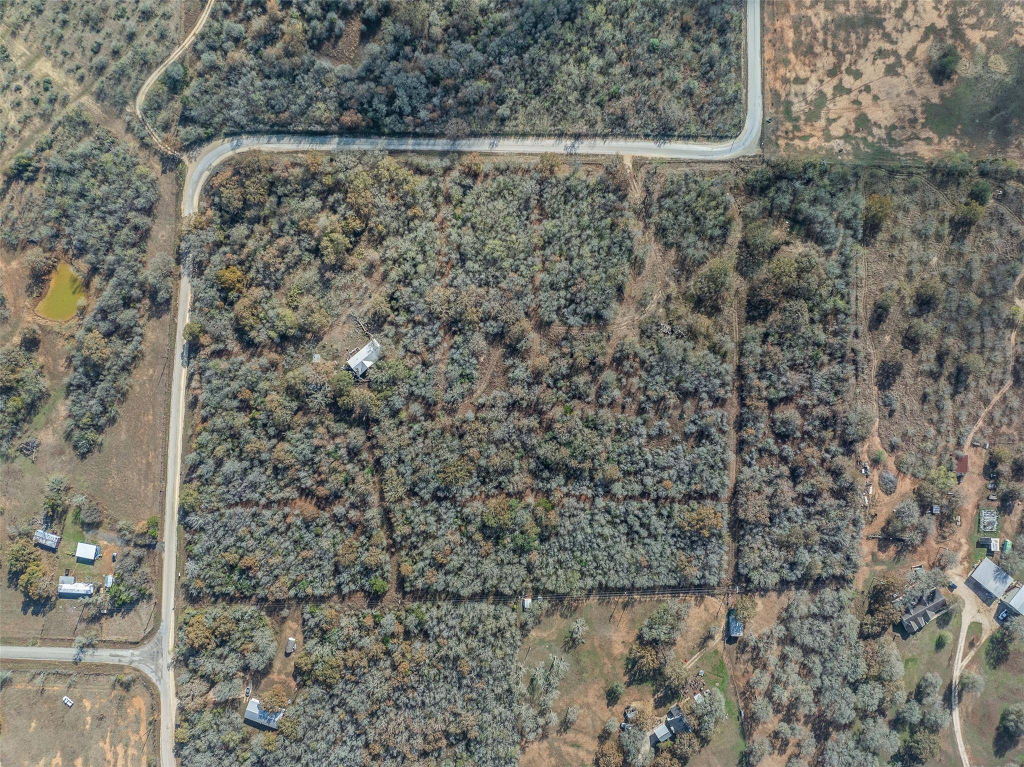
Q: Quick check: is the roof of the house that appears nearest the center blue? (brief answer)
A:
No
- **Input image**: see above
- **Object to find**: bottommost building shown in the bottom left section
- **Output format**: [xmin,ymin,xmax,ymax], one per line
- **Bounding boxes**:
[244,697,285,730]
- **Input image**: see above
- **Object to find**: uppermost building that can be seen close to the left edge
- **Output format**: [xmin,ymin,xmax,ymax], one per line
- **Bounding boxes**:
[33,529,63,548]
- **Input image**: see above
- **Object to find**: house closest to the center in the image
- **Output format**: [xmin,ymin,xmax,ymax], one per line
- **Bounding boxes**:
[348,339,384,374]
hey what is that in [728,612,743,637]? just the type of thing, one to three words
shed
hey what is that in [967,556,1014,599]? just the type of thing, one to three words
barn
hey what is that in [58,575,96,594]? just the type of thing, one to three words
house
